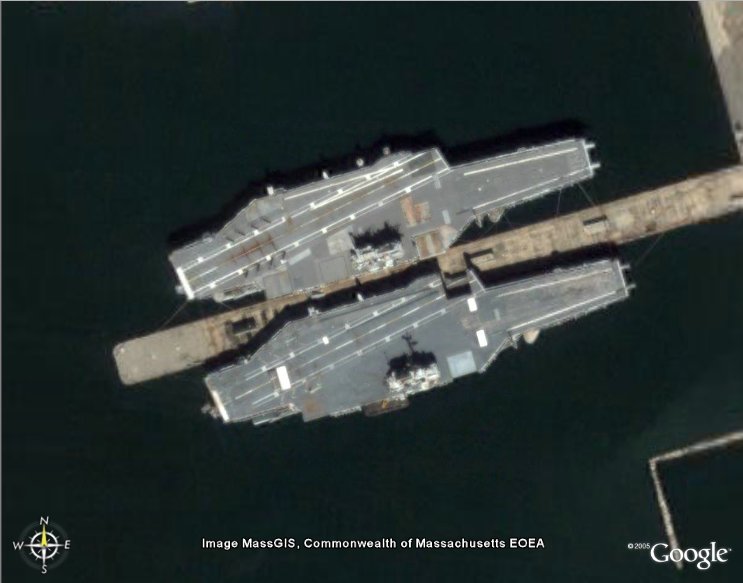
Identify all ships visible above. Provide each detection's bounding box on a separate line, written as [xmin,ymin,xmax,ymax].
[169,137,601,302]
[364,397,408,418]
[202,258,636,425]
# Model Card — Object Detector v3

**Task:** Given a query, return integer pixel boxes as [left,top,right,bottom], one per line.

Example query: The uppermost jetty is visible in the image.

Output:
[114,168,743,385]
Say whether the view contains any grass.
No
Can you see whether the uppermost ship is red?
No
